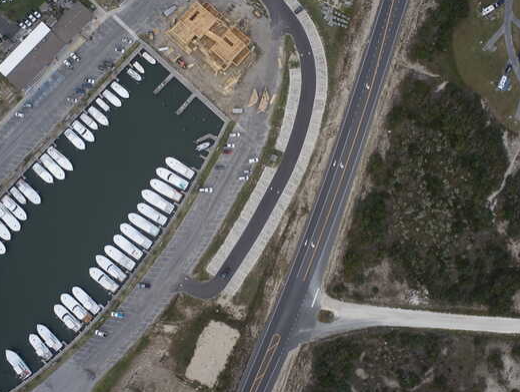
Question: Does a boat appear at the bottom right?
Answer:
No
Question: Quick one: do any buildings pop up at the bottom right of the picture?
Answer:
No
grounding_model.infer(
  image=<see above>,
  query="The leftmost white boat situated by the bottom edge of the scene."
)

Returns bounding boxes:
[5,350,32,384]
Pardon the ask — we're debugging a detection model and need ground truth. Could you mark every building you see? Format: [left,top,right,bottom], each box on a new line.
[165,0,250,68]
[6,1,91,91]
